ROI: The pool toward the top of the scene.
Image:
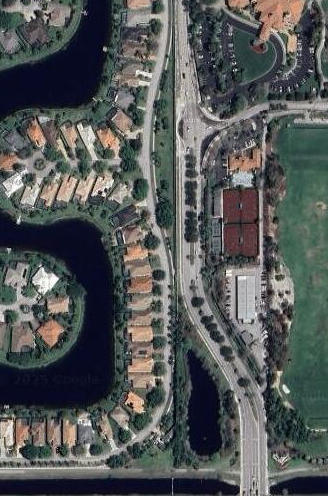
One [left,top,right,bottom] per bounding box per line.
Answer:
[231,174,253,186]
